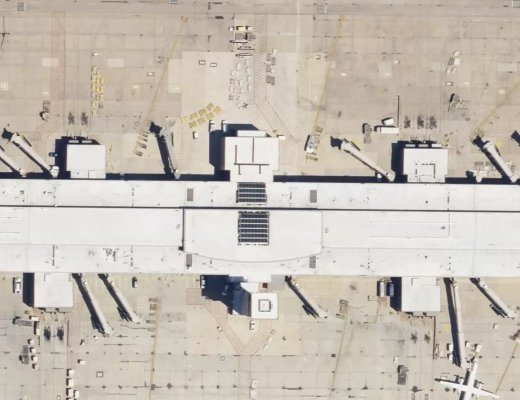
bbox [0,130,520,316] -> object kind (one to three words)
building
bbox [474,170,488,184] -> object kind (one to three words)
jet bridge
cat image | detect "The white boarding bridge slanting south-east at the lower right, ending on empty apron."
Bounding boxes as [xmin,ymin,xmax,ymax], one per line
[474,277,519,320]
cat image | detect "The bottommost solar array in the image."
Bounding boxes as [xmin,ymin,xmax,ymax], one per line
[238,212,269,244]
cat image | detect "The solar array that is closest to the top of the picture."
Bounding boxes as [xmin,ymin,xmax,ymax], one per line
[237,181,267,205]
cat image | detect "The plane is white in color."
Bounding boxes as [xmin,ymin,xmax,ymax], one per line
[439,358,497,400]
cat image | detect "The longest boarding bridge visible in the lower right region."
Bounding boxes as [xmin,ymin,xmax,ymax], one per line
[451,277,470,372]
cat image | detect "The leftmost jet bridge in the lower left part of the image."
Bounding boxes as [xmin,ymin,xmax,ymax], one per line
[79,273,117,339]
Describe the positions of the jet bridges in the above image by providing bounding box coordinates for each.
[8,130,58,179]
[0,144,27,179]
[286,275,331,321]
[474,170,488,184]
[159,130,180,181]
[474,277,519,320]
[104,273,143,326]
[336,142,392,183]
[477,138,516,184]
[451,277,470,372]
[79,273,117,339]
